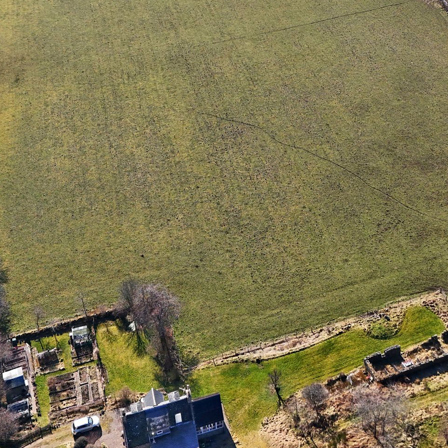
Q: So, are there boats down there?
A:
No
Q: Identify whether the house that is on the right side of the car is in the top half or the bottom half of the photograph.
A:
bottom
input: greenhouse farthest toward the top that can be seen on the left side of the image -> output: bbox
[72,329,90,353]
